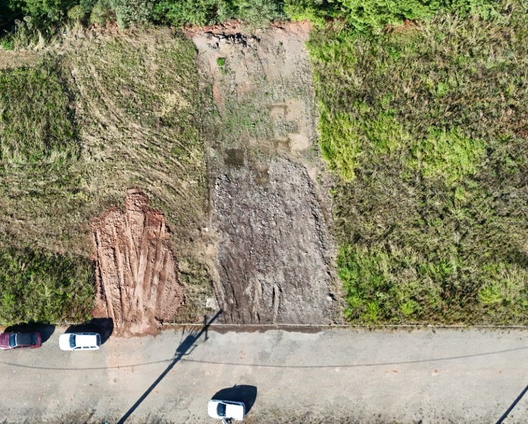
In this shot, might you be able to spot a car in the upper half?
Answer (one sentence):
No, no car appears in the upper half.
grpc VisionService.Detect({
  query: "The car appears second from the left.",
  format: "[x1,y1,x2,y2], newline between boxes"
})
[58,332,100,350]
